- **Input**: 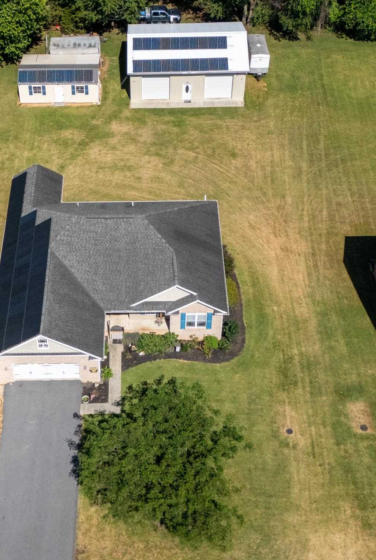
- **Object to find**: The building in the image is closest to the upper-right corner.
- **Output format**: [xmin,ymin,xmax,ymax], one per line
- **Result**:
[128,22,250,101]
